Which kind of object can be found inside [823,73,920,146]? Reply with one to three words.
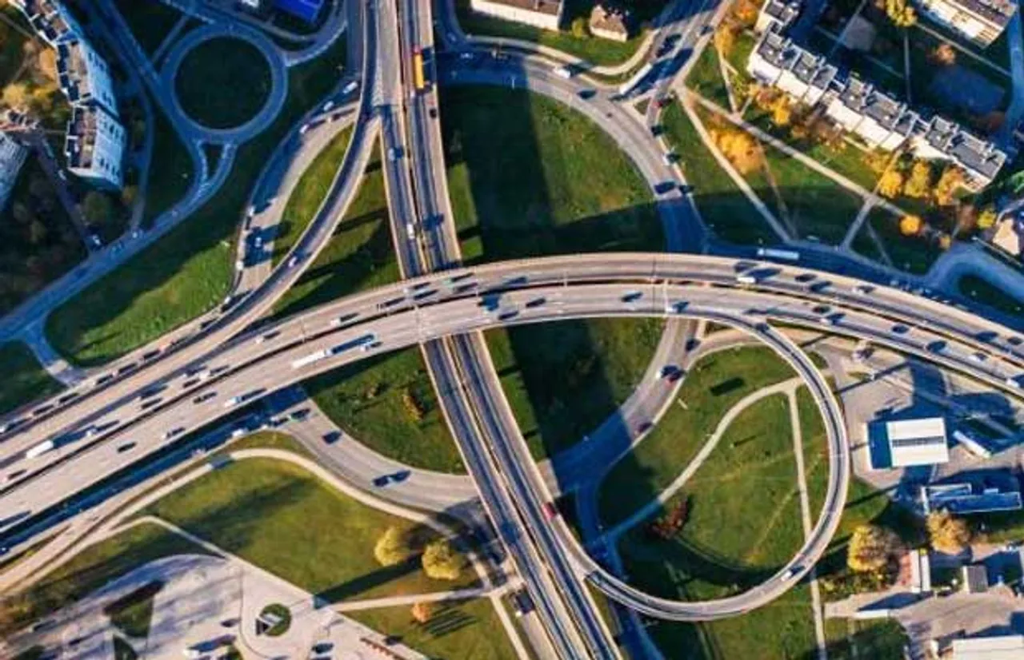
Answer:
building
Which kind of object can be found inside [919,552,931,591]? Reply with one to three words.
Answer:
shed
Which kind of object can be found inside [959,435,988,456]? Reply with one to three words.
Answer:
bus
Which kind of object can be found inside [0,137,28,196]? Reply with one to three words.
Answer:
building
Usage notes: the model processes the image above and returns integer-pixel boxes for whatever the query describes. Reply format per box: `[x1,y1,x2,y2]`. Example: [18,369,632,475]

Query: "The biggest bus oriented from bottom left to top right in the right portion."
[620,62,653,92]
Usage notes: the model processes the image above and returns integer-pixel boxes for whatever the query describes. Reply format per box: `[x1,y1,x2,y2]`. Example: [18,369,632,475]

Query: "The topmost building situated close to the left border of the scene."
[7,0,105,56]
